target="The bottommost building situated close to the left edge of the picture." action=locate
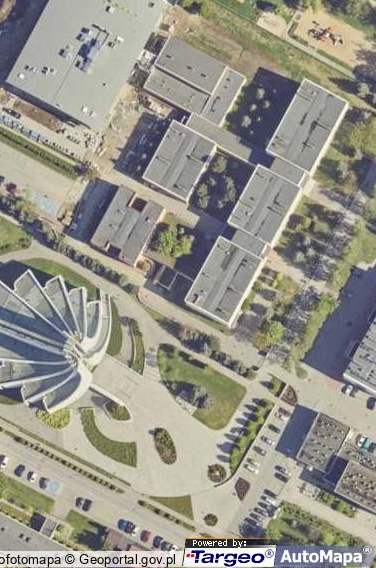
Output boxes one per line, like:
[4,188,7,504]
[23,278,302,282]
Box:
[0,513,118,568]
